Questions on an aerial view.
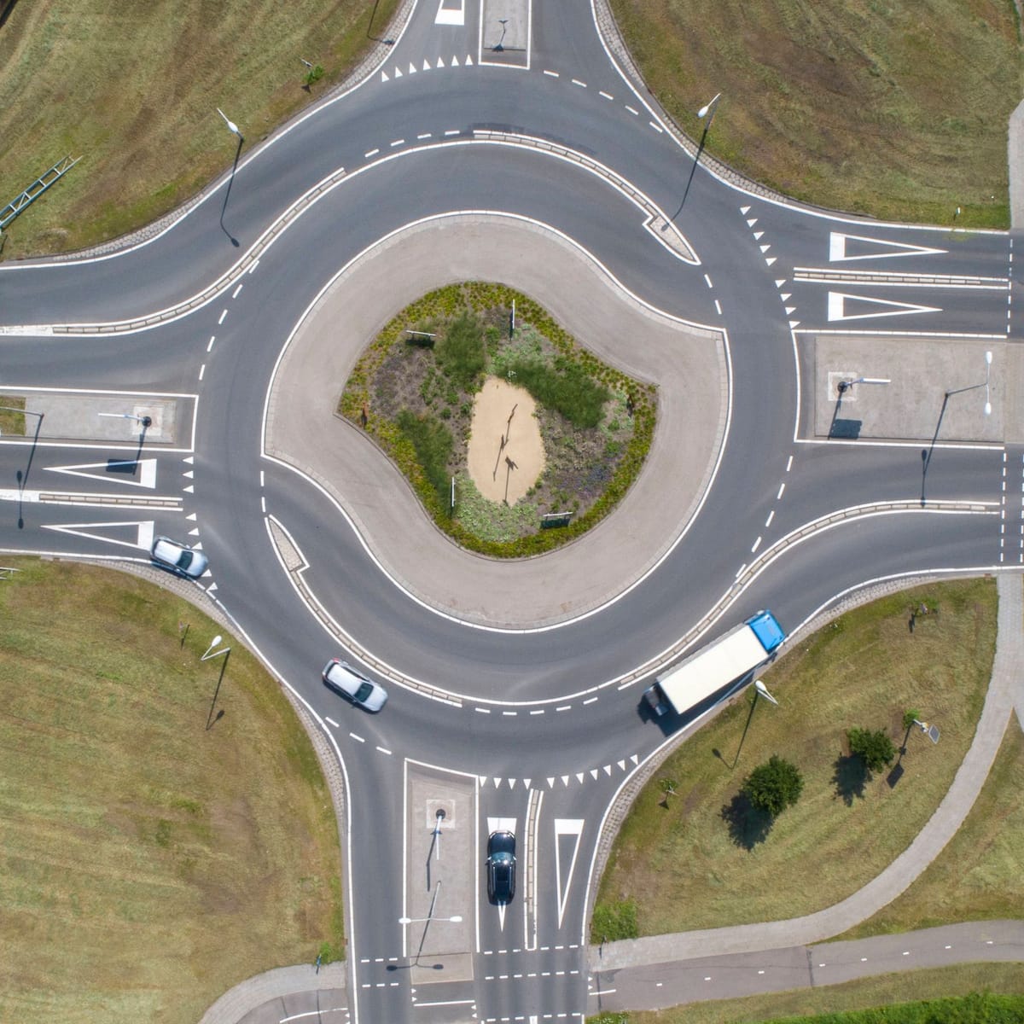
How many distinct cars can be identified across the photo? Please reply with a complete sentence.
There are 3 cars in the image.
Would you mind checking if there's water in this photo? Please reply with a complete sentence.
No, the scene doesn't show any water.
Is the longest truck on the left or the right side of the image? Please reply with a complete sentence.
The longest truck sits on the right side.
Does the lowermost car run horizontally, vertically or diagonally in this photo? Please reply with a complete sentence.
The lowermost car has been laid out vertically relative to the frame.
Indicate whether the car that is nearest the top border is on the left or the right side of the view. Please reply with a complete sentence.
The car that is nearest the top border sits on the left side.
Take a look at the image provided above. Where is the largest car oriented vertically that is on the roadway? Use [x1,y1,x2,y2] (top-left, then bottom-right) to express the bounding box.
[485,831,519,904]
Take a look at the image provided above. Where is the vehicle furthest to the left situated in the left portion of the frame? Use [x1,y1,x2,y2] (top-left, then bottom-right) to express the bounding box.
[147,534,207,575]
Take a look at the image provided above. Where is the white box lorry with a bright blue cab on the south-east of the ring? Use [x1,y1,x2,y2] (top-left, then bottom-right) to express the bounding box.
[655,609,785,714]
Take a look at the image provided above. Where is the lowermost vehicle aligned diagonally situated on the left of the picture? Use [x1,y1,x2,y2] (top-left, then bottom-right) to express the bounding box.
[322,657,387,709]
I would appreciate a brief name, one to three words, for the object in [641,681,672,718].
work vehicle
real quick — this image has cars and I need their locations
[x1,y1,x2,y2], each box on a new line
[147,534,207,575]
[322,657,387,709]
[485,831,519,904]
